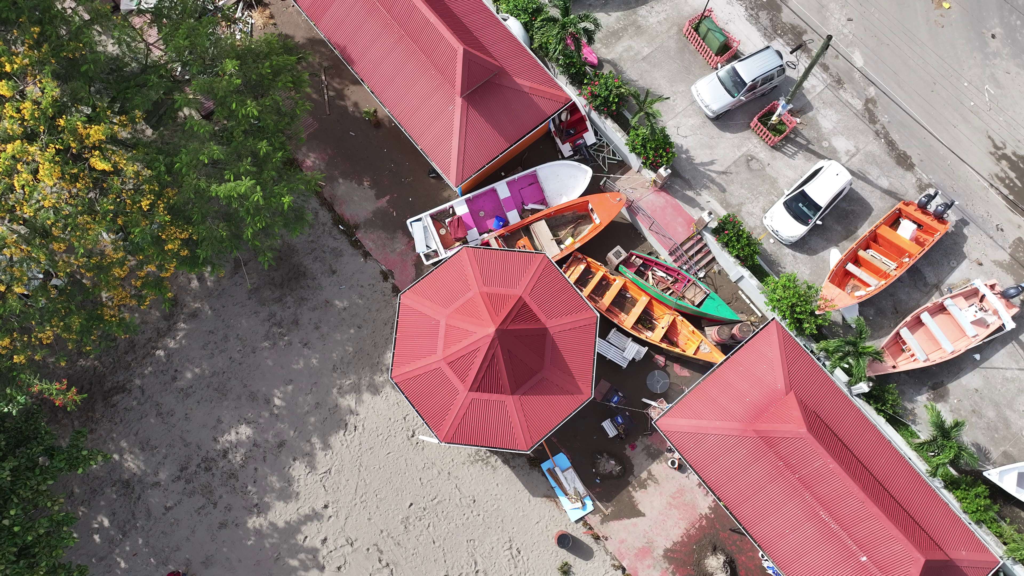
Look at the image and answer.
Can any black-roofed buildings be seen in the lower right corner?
No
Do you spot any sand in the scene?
Yes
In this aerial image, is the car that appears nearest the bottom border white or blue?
white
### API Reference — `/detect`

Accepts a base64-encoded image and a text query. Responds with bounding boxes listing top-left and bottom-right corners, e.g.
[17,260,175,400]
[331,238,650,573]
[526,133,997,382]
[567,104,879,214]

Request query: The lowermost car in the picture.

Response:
[762,151,860,245]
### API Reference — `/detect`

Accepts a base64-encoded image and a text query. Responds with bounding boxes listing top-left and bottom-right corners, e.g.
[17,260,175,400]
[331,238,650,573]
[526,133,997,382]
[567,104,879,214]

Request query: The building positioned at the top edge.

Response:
[286,0,579,198]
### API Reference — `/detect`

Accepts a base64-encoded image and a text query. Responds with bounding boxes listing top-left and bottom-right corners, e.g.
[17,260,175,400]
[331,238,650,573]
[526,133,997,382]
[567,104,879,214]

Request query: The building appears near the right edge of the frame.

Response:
[647,312,1009,576]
